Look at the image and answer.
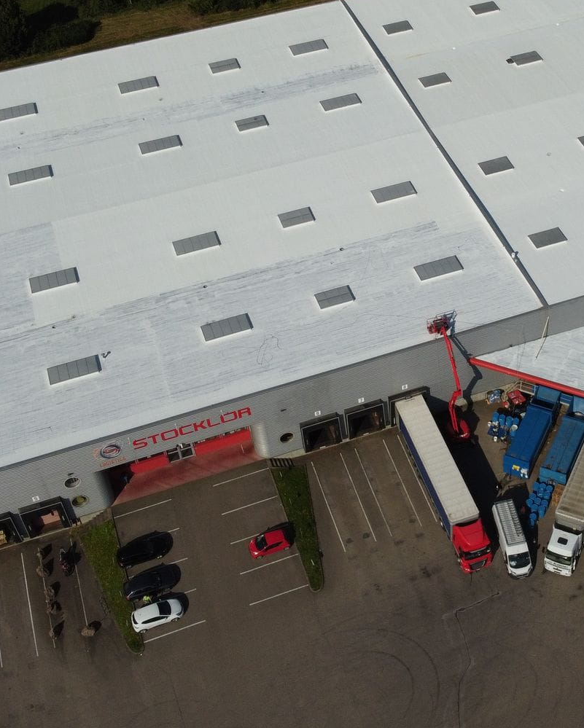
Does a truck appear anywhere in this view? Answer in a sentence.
Yes, a truck can be made out from above.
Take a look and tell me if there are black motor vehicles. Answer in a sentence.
Yes, there's a black motor vehicle down there.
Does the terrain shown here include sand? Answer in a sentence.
No, no sand is visible.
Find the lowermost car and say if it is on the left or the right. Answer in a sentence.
The lowermost car appears in the left half of the scene.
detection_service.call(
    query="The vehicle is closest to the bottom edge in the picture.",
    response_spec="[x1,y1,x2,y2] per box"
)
[128,597,184,635]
